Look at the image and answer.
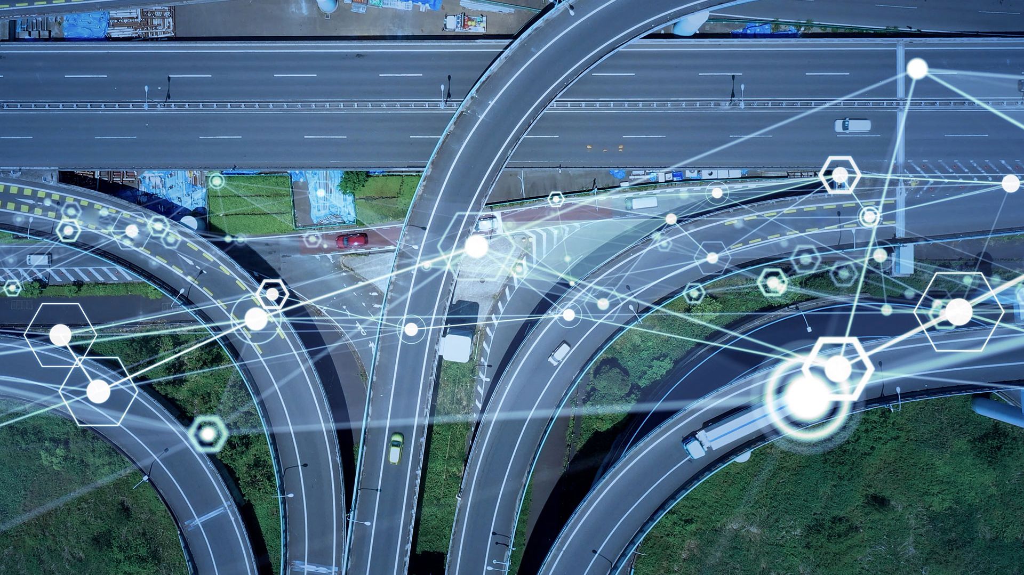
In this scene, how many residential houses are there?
0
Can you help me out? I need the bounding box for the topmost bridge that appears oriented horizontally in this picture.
[0,37,1024,238]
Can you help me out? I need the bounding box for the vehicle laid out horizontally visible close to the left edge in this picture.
[26,253,53,266]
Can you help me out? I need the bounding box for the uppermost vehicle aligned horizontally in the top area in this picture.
[444,12,487,33]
